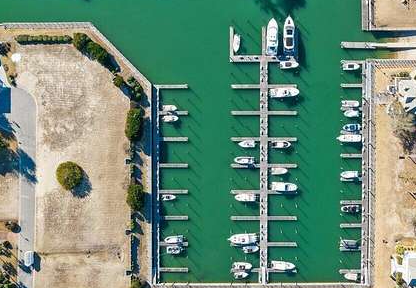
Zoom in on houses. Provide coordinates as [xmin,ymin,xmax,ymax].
[383,77,416,118]
[383,246,416,288]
